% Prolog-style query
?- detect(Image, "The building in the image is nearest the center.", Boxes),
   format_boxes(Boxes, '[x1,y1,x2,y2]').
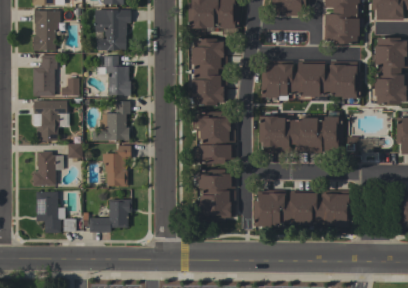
[198,116,237,166]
